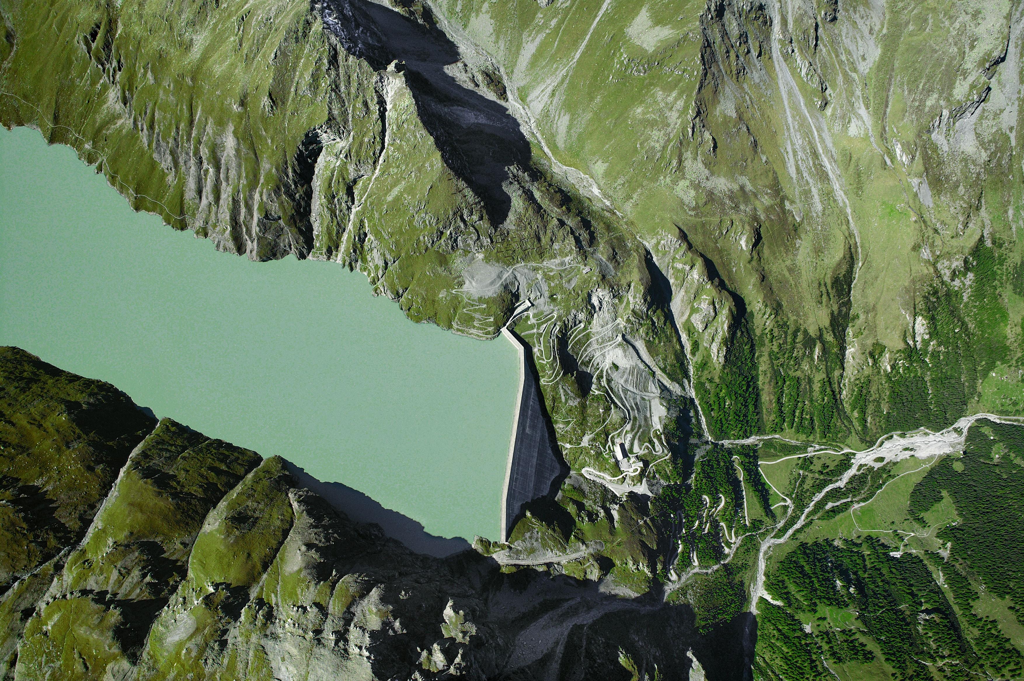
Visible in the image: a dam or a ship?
dam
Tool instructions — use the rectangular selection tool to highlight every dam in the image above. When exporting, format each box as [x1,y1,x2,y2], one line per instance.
[500,327,559,542]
